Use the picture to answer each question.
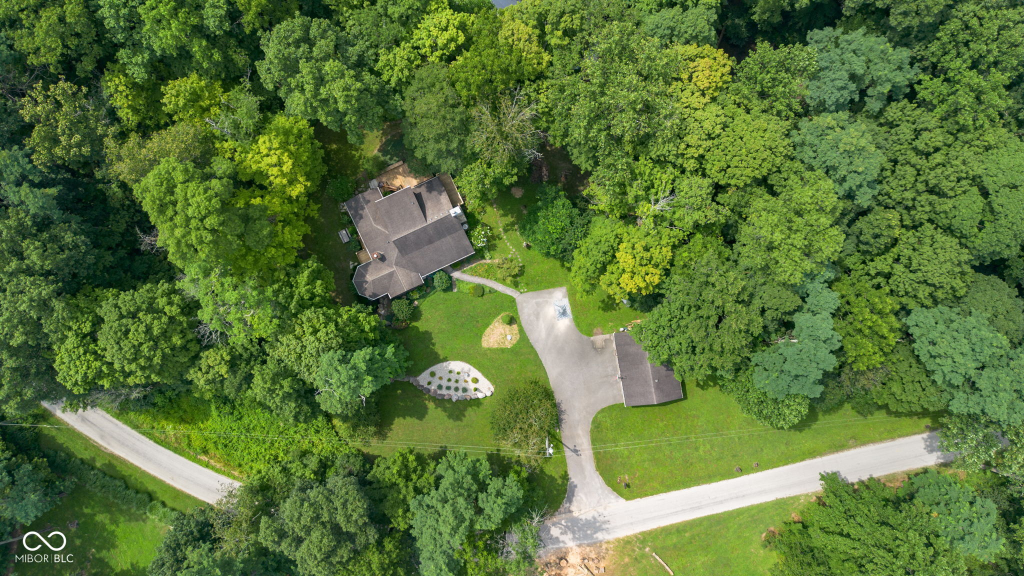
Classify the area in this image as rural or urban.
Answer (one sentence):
The area is rural.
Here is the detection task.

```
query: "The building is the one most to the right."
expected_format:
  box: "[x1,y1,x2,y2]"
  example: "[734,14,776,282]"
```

[614,330,683,407]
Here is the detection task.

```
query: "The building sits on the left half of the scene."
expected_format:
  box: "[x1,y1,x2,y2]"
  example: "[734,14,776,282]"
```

[344,176,475,300]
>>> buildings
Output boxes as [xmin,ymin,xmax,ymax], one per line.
[614,330,683,407]
[344,176,475,300]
